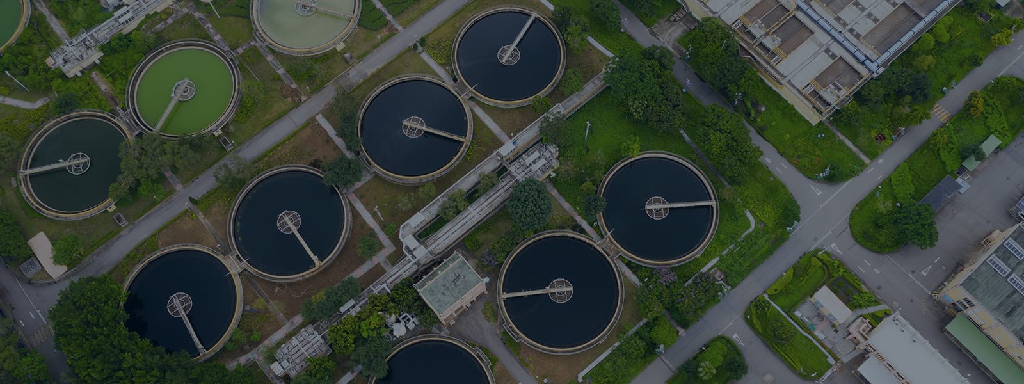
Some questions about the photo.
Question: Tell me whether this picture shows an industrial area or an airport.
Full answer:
The picture captures an industrial area.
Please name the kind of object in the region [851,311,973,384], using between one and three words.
building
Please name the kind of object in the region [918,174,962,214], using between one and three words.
shed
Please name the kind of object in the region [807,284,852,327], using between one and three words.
building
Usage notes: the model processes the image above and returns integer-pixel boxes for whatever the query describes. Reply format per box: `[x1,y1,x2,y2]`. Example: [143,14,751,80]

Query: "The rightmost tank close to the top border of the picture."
[451,4,567,109]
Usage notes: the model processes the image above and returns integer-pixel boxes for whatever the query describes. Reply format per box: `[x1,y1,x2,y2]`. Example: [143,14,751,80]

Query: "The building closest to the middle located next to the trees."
[411,248,487,327]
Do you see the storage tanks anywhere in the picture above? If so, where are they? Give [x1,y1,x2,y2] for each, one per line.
[251,0,362,57]
[595,150,721,269]
[354,73,473,184]
[227,164,352,283]
[369,333,496,384]
[17,109,136,221]
[451,4,567,109]
[126,38,243,143]
[496,229,625,356]
[0,0,33,56]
